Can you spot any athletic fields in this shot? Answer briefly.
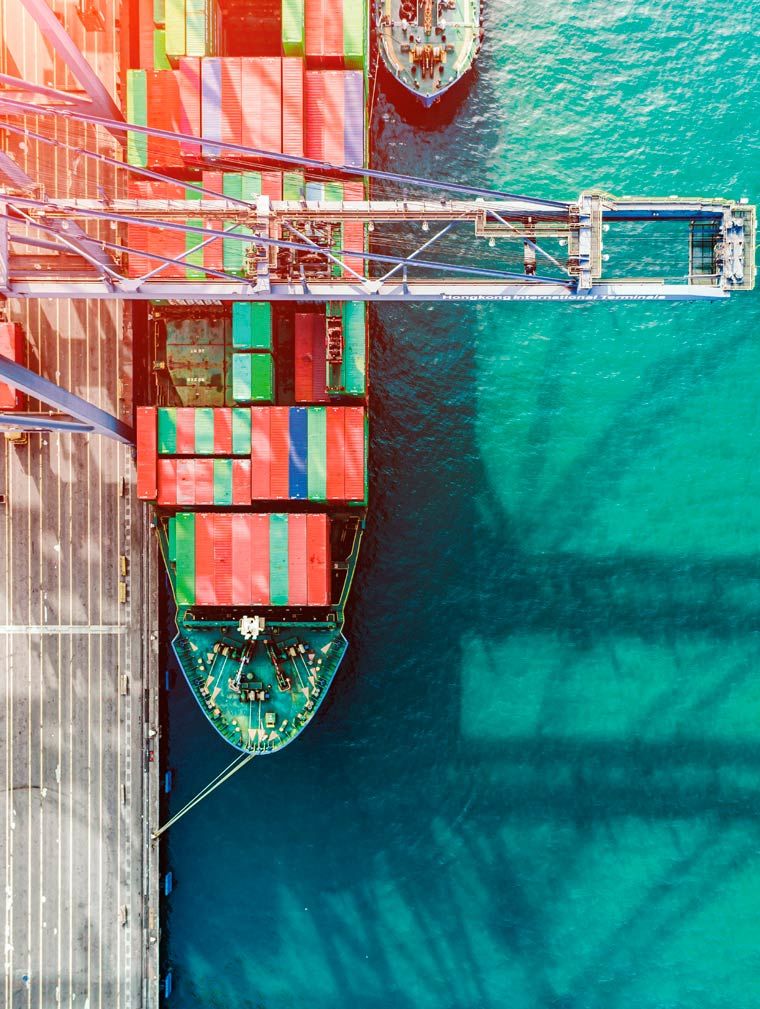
No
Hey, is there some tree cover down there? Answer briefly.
No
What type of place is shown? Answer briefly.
port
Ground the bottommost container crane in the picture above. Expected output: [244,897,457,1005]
[0,97,759,449]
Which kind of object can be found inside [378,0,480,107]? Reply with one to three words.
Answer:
vessel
